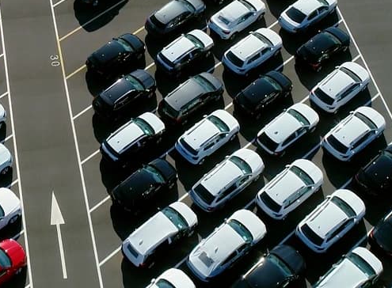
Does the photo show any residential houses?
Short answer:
No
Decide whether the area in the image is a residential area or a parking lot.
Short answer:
parking lot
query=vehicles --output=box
[318,106,386,165]
[0,234,30,286]
[367,210,392,259]
[145,266,197,288]
[349,142,392,202]
[219,27,283,78]
[0,189,19,227]
[230,241,309,288]
[97,110,168,168]
[306,61,371,115]
[121,200,197,270]
[106,154,180,218]
[155,70,223,126]
[251,158,326,223]
[89,69,158,123]
[144,0,204,39]
[81,32,148,81]
[291,25,353,74]
[189,150,261,213]
[229,68,294,123]
[206,0,266,39]
[311,243,386,288]
[186,209,265,281]
[275,0,338,36]
[293,188,366,255]
[151,28,217,79]
[171,108,241,166]
[251,102,321,160]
